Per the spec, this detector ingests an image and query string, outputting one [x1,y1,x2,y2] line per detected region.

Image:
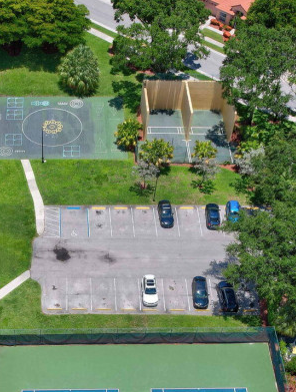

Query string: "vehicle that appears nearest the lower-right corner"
[215,281,238,313]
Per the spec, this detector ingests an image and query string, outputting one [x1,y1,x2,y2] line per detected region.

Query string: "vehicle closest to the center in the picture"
[158,202,175,230]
